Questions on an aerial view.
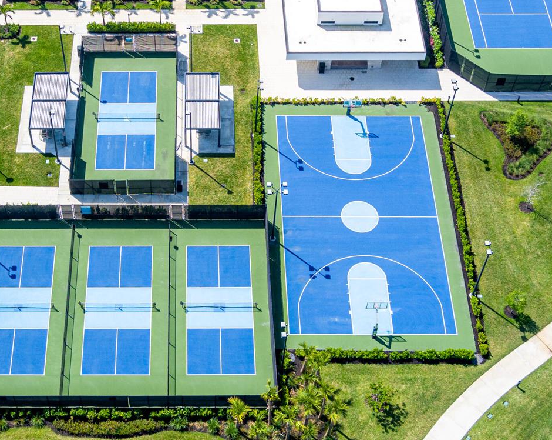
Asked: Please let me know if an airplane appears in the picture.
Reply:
No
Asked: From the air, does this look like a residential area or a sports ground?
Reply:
sports ground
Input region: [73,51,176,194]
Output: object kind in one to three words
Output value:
sports court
